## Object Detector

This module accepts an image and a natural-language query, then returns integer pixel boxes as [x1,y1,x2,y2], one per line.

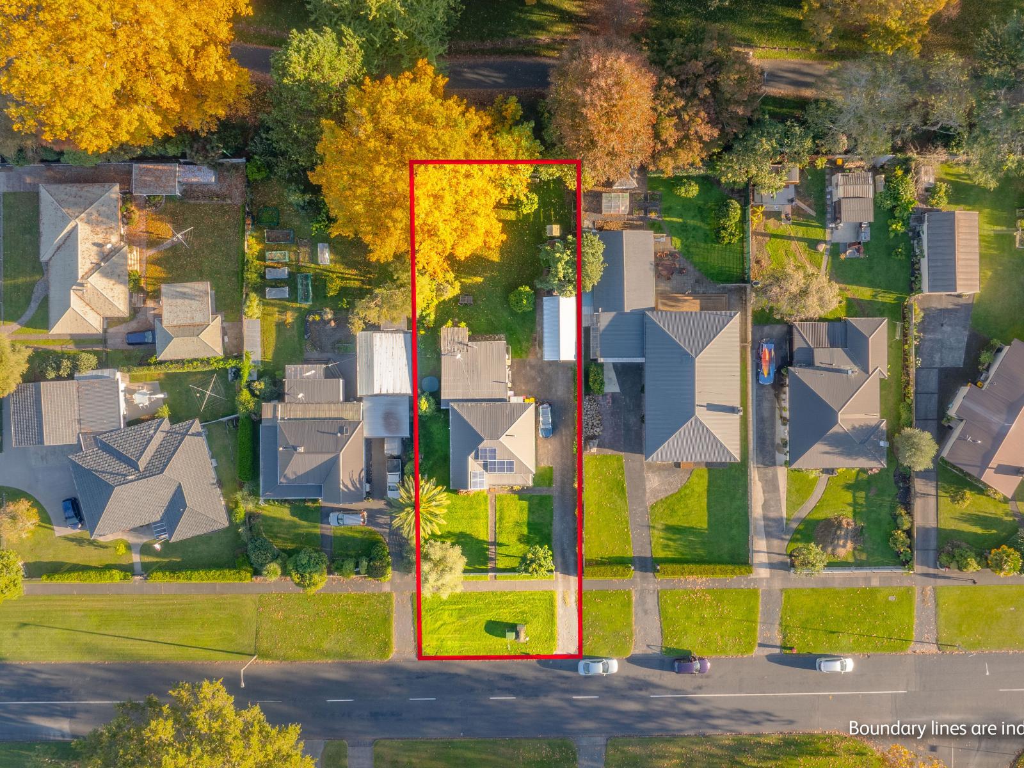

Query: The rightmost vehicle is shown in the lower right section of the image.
[816,656,853,675]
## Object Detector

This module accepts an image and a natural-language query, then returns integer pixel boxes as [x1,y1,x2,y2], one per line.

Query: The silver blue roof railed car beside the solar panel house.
[536,399,554,440]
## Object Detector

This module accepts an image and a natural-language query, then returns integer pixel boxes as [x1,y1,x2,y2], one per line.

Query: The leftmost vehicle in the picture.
[61,494,86,531]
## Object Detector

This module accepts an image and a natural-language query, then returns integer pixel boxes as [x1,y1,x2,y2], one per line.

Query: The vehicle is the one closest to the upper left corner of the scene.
[126,329,156,346]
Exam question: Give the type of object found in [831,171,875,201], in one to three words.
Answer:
shed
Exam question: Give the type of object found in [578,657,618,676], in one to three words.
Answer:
car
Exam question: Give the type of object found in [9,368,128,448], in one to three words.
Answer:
building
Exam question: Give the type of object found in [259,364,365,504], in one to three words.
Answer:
house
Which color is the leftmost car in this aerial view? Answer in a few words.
blue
